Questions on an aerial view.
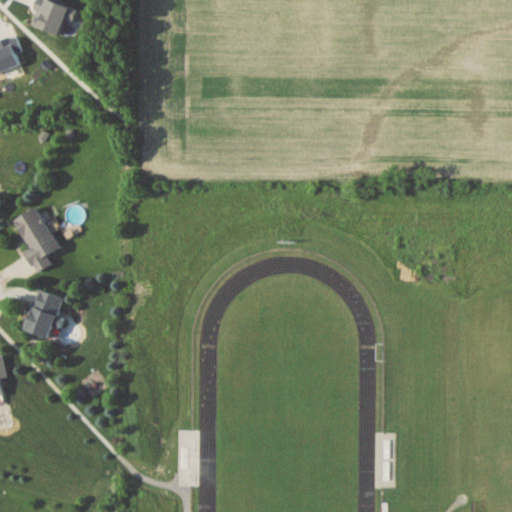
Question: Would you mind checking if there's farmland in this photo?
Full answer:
Yes, farmland can be seen from above here.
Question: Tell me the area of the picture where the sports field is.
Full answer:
The sports field is located in the bottom region of the scene.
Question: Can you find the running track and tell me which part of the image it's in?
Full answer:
The running track is located in the bottom region of the scene.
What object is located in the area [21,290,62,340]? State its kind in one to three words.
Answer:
house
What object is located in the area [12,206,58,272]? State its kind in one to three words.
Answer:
house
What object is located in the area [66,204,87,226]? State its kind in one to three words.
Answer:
swimming pool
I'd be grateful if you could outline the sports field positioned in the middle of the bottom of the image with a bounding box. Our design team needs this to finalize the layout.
[216,274,360,512]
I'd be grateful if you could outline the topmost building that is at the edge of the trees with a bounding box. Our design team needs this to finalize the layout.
[31,0,66,35]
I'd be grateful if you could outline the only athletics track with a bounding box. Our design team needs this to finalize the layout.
[200,258,376,512]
